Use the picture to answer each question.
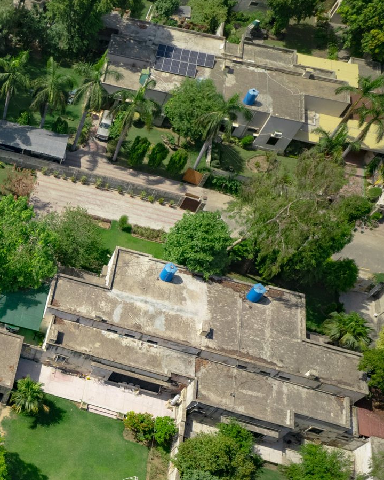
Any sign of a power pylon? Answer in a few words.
No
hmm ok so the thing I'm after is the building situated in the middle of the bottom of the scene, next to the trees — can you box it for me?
[41,247,368,480]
